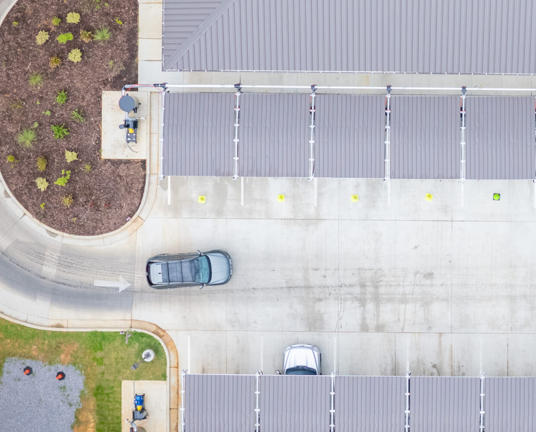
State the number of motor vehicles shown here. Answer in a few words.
2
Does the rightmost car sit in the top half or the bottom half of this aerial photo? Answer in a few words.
bottom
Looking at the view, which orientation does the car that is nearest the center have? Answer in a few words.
from side to side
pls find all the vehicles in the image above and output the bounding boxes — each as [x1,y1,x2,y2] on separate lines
[146,250,233,290]
[280,342,323,376]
